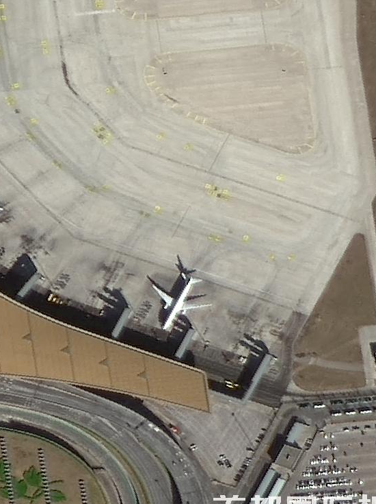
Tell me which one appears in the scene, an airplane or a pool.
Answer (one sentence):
The image shows an airplane.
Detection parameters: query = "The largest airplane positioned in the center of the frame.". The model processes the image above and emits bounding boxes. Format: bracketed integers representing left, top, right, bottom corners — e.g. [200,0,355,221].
[154,268,215,328]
